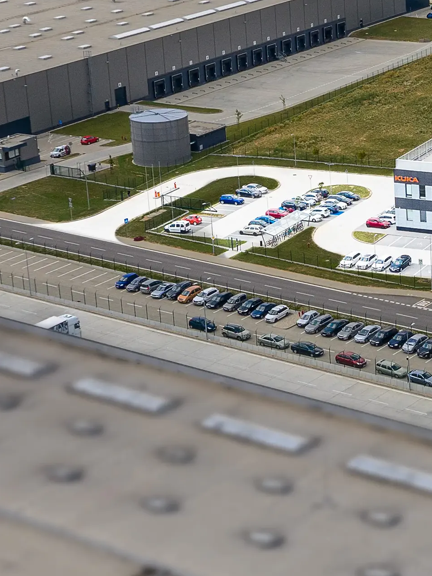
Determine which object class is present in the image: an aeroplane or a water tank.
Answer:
water tank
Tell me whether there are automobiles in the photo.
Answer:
Yes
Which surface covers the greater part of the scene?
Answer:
buildings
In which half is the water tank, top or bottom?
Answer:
top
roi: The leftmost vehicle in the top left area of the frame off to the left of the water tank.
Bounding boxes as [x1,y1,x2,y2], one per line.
[47,142,73,159]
